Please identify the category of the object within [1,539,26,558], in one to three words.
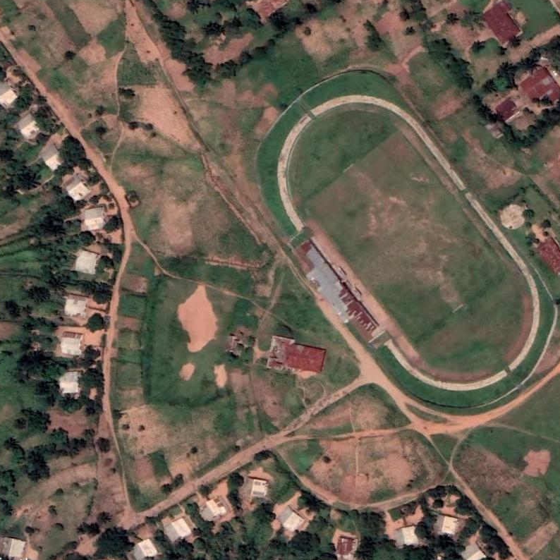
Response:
house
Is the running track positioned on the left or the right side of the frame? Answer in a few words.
right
